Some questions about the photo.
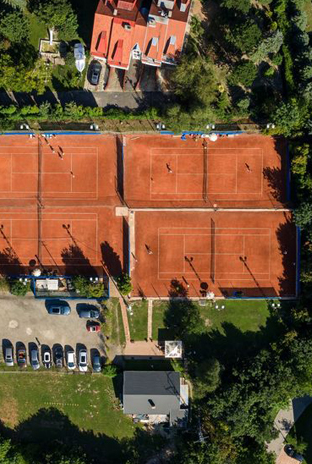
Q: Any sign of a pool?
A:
No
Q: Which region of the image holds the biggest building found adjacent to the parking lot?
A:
bottom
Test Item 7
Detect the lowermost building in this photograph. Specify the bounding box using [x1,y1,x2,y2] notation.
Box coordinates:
[124,369,188,427]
